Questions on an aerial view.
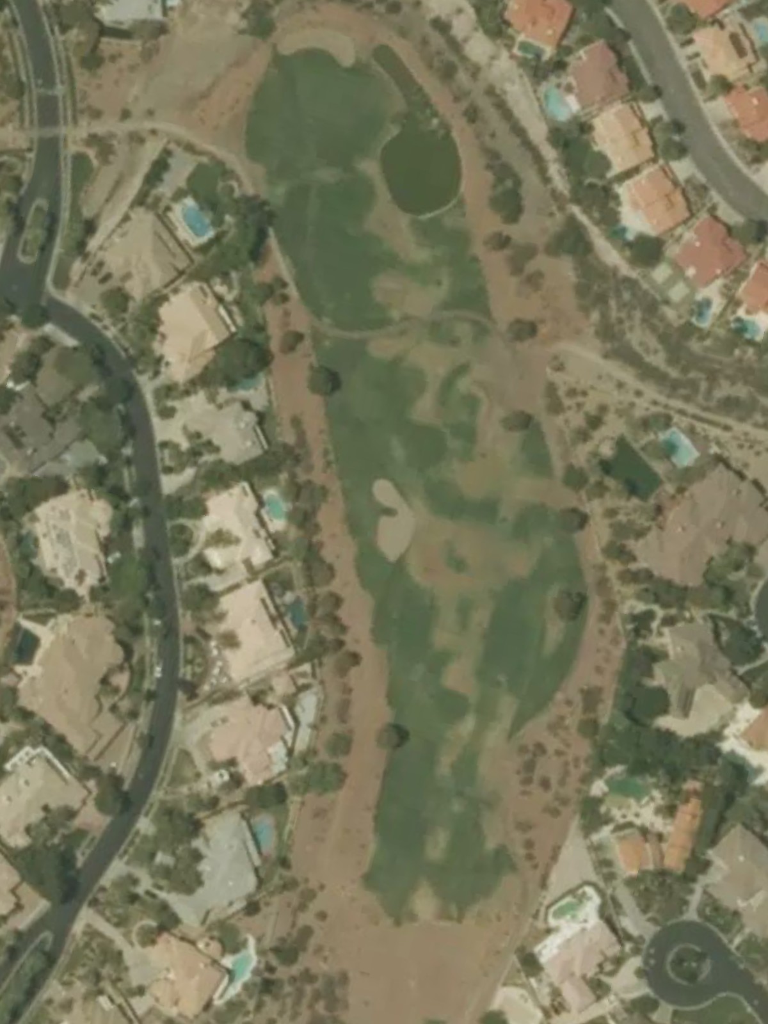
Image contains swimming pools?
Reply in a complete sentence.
Yes, there is a swimming pool in the image.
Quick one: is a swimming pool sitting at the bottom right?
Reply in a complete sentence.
Yes, I can see a swimming pool at the bottom right.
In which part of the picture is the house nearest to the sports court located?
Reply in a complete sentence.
The house nearest to the sports court is located in the right region of the scene.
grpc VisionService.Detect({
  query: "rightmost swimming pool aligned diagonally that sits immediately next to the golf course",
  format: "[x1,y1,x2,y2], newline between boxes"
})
[590,773,673,835]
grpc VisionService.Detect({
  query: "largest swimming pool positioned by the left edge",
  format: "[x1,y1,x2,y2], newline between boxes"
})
[12,627,41,663]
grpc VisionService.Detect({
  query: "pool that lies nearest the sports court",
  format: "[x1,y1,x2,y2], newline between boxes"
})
[658,427,701,469]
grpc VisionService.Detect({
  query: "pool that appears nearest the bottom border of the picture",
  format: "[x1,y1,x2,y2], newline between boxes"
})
[218,934,257,1003]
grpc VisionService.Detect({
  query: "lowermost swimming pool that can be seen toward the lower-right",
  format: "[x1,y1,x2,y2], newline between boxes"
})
[533,886,600,964]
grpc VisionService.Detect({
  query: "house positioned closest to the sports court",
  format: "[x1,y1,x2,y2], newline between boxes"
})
[637,464,768,590]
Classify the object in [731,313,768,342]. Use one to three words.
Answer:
swimming pool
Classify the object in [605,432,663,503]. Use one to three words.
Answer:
sports court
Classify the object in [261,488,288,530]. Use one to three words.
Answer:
swimming pool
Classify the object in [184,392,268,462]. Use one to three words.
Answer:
house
